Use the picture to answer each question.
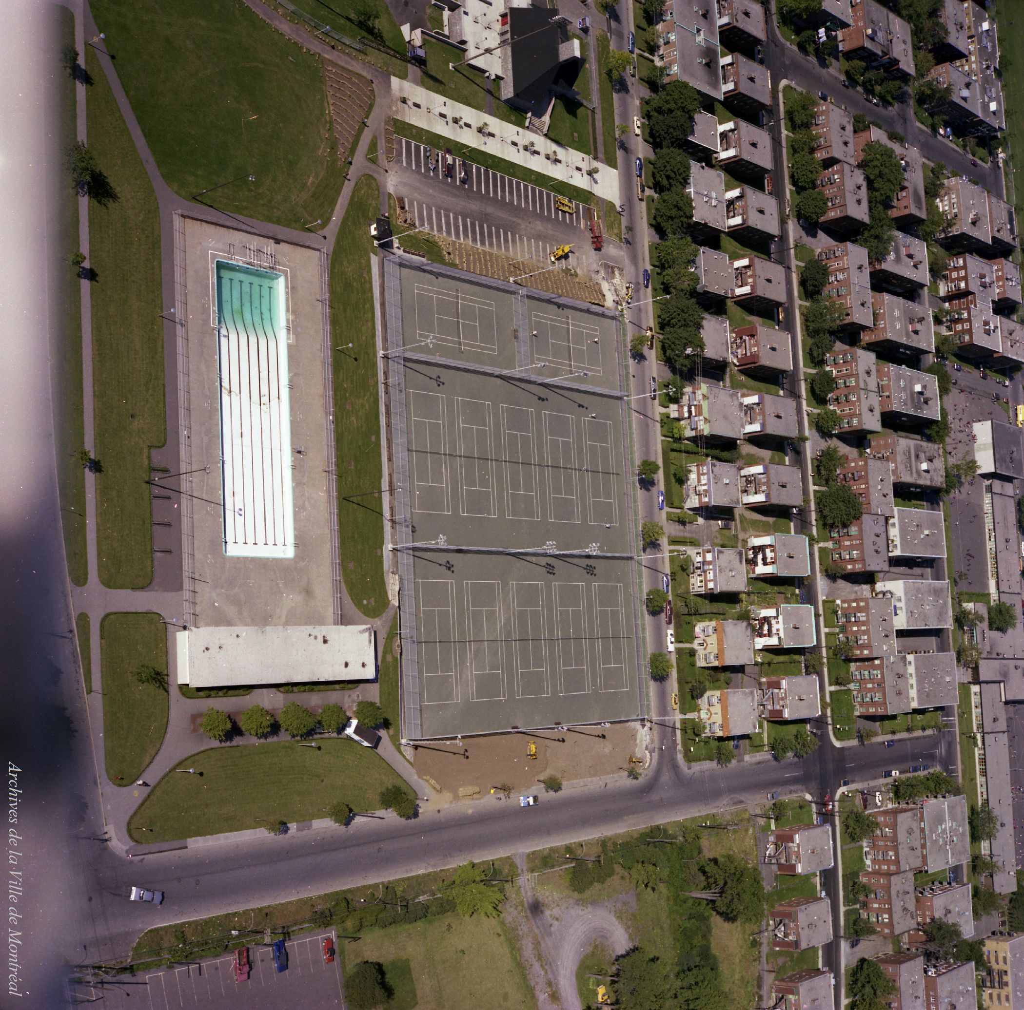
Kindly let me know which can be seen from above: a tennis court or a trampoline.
tennis court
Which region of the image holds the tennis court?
center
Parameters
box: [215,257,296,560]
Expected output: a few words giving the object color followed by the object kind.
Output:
white swimming pool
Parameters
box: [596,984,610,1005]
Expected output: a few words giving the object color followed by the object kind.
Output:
yellow car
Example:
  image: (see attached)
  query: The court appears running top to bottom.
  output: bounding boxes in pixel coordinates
[385,259,641,739]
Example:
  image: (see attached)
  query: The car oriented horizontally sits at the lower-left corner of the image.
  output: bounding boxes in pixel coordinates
[131,888,165,905]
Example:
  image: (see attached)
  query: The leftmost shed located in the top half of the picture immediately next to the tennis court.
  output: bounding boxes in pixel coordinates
[365,216,394,251]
